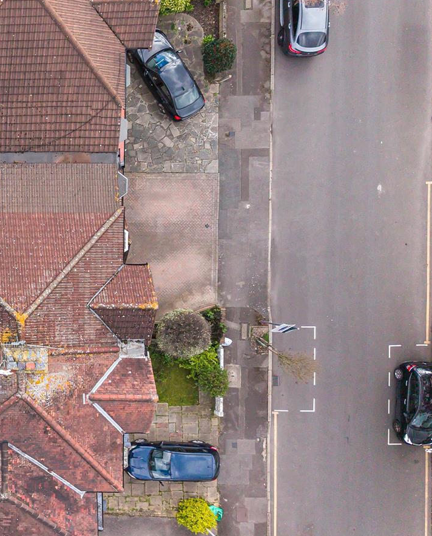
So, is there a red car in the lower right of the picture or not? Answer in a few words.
No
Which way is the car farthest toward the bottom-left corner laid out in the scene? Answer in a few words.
horizontally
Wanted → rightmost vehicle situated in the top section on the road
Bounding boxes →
[274,0,325,55]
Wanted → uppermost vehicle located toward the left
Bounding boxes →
[132,33,203,123]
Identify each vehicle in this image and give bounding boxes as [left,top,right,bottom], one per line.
[391,362,432,443]
[132,33,203,123]
[274,0,325,55]
[125,437,215,483]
